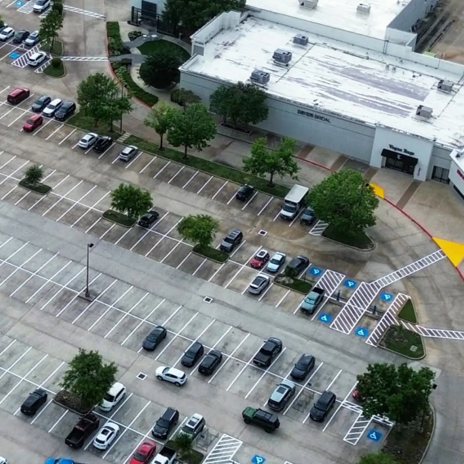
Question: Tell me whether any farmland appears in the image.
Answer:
No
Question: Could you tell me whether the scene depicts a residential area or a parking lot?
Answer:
parking lot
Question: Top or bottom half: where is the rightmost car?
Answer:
bottom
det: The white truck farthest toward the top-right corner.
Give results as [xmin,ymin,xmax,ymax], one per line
[278,178,312,218]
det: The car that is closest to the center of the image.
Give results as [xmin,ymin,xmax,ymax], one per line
[218,226,245,253]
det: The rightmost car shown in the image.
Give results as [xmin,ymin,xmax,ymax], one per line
[349,383,369,413]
